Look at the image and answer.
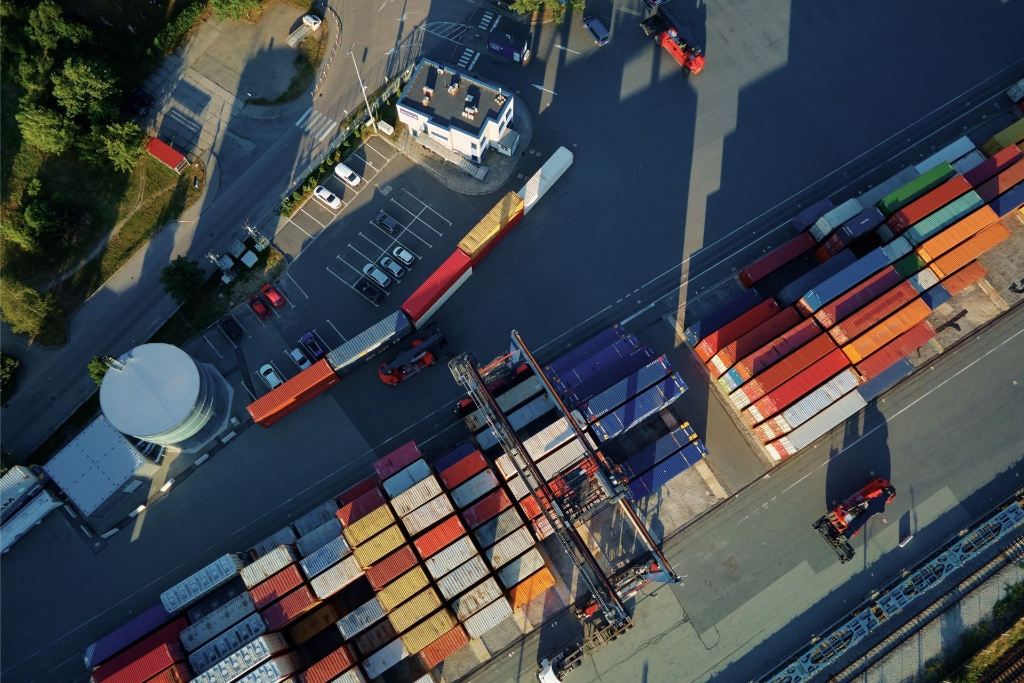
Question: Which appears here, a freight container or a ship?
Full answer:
This aerial view contains a freight container.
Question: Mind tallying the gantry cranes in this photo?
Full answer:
The count comes to 1 gantry crane.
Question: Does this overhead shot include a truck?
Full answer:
Yes, the frame does contain a truck.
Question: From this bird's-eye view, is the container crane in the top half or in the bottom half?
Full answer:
The bottom half of the photo is where the container crane is.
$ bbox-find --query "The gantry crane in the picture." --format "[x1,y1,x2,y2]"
[441,328,689,626]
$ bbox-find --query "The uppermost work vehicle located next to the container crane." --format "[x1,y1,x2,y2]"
[380,317,462,388]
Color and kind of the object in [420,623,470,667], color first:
red shipping container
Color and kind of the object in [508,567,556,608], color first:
orange shipping container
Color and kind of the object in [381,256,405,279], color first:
blue car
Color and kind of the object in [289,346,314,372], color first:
blue car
